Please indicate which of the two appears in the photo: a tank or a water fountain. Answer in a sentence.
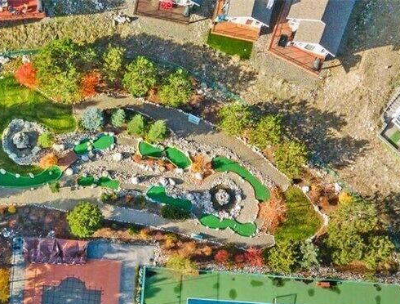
Looking from above, you can make out a water fountain.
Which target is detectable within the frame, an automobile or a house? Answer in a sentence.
The image shows a house.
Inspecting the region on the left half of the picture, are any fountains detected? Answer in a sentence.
Yes, I can see a fountain on the left half of the picture.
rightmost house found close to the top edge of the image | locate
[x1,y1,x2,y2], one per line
[265,0,352,79]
